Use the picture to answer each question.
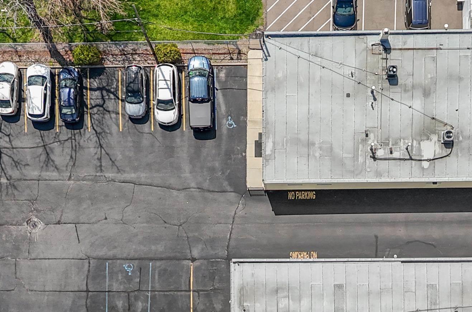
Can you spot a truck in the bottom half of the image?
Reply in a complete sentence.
No, no truck can be made out in the bottom half of the image.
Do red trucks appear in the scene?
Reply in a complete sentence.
No, no red truck can be seen from above.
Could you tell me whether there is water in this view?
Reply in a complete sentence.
No, no water is visible.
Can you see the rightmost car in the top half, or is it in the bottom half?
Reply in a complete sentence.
It is in the top half that the rightmost car appears.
